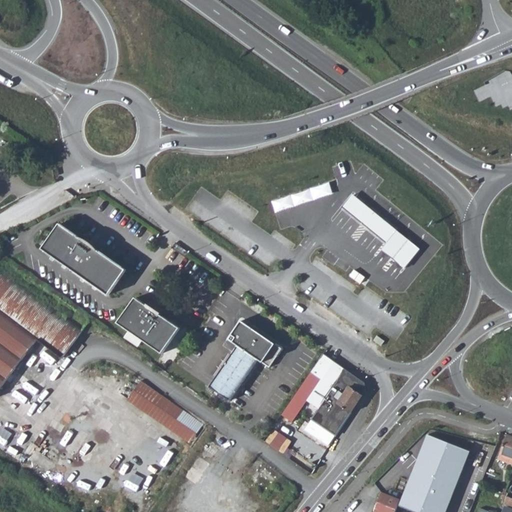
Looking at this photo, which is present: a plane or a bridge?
bridge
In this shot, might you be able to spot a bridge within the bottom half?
No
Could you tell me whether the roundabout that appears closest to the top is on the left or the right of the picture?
left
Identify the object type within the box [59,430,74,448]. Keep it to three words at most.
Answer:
camper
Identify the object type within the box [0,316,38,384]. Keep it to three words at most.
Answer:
shed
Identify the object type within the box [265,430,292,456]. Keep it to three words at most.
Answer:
house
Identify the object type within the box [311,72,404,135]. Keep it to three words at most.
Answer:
bridge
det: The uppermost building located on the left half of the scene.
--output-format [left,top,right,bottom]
[38,223,124,296]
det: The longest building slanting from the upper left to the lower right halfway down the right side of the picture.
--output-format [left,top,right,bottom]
[342,194,420,268]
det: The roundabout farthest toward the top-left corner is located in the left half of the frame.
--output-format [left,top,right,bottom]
[60,78,166,179]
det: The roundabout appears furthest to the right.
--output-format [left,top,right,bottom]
[463,161,512,313]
